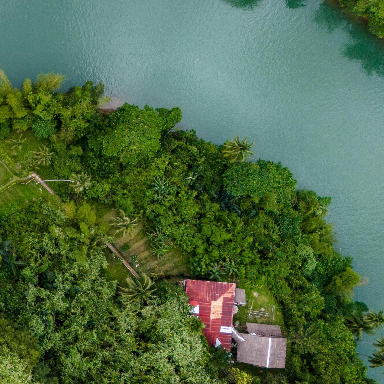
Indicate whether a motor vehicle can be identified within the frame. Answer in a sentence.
No, no motor vehicle is visible in the view.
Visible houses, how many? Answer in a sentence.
The photo contains 2 houses.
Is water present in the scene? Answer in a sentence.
Yes, there's water in this view.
